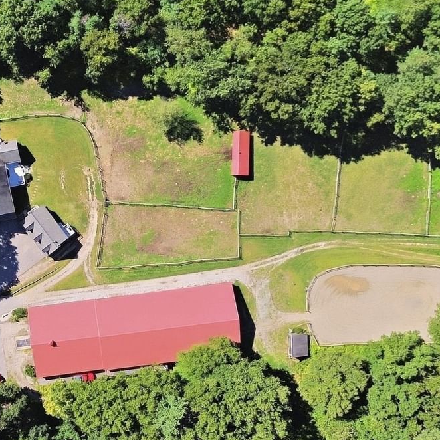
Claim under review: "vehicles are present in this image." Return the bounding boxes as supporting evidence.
[76,374,94,382]
[153,364,171,373]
